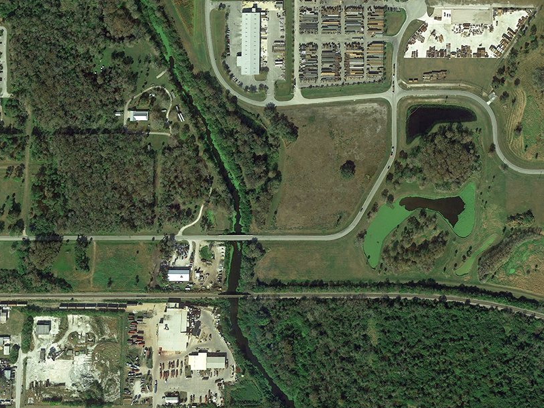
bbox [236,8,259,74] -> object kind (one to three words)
building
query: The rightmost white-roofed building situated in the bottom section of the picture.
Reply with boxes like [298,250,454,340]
[188,352,225,370]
